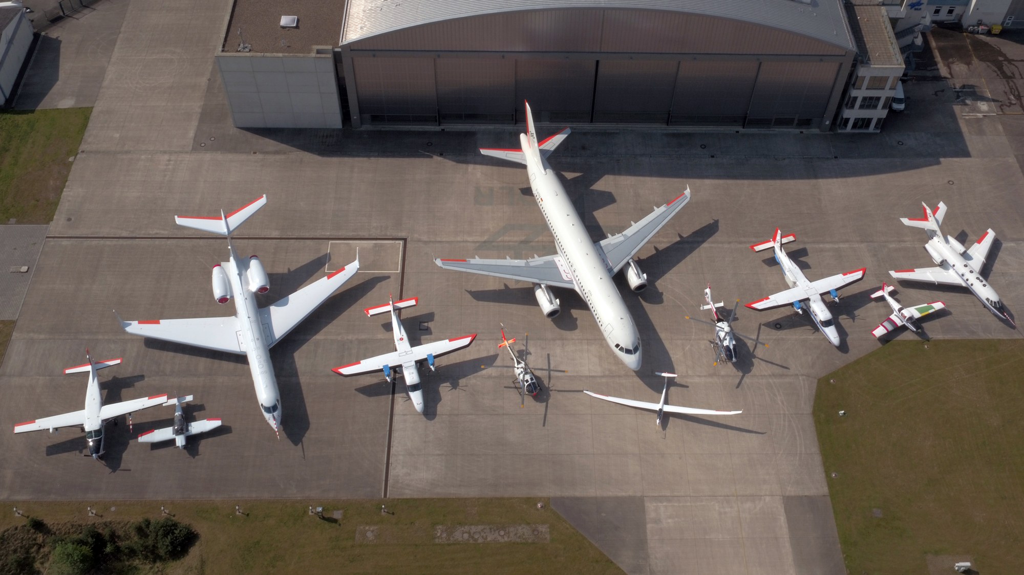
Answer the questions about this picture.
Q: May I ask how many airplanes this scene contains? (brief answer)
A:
9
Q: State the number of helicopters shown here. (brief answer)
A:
2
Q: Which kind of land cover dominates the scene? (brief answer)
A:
paved ground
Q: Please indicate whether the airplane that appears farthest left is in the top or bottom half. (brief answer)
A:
bottom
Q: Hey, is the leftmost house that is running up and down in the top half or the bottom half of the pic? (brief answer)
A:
top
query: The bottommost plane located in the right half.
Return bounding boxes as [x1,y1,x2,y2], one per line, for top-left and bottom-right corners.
[583,372,744,432]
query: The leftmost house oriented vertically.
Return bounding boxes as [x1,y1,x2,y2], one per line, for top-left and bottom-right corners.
[0,8,45,106]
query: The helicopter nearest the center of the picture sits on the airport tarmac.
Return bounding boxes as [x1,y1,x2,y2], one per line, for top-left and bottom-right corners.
[482,322,568,407]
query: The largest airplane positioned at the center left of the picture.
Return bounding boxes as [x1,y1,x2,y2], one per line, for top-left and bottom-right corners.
[112,195,359,440]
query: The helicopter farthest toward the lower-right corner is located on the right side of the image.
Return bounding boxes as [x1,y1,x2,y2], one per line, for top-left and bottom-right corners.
[685,283,770,365]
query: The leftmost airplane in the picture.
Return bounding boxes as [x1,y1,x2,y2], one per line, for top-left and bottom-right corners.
[14,350,167,460]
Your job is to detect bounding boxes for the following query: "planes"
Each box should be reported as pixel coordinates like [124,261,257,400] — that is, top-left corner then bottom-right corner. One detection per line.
[583,372,744,432]
[891,201,1013,328]
[139,391,221,450]
[14,350,167,460]
[331,294,476,413]
[434,101,690,370]
[112,195,359,440]
[742,230,864,346]
[871,283,944,338]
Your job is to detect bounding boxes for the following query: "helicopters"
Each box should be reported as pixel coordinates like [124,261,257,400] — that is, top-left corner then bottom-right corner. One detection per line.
[482,322,568,407]
[685,283,770,365]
